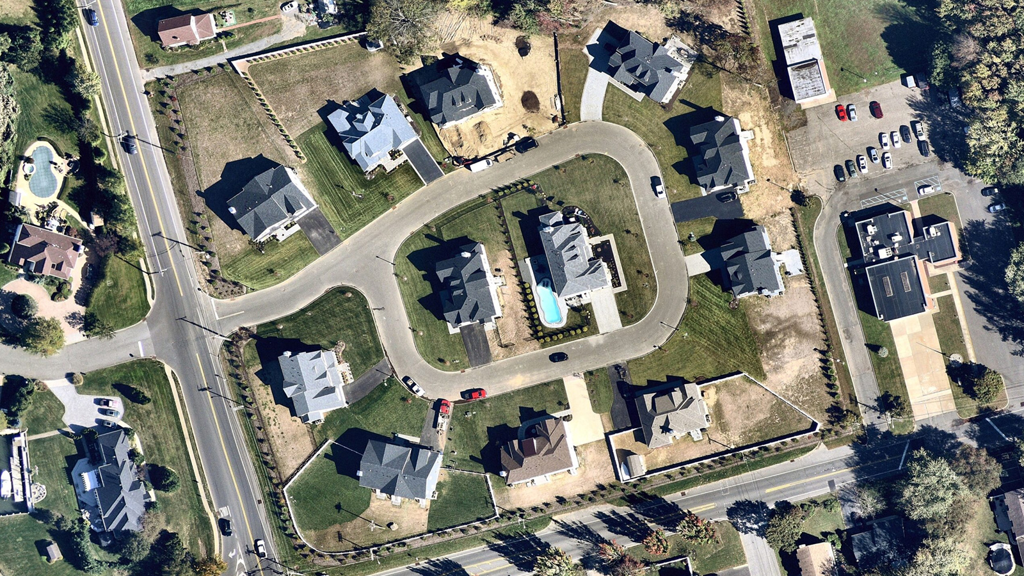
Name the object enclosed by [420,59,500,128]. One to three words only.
house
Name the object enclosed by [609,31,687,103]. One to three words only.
house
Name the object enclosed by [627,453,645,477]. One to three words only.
shed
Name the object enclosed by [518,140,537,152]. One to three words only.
vehicle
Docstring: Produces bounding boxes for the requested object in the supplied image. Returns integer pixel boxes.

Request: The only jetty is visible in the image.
[5,439,26,501]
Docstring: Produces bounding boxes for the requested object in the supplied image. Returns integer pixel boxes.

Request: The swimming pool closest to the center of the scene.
[535,276,563,325]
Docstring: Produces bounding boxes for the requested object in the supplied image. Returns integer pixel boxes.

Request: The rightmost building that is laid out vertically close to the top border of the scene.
[778,17,830,103]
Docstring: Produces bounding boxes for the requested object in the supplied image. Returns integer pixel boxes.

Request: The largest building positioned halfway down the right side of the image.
[855,212,960,320]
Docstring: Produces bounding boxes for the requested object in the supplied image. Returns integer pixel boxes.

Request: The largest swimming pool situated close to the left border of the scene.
[28,145,58,199]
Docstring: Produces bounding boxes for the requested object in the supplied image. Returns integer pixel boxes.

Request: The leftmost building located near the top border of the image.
[158,13,216,49]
